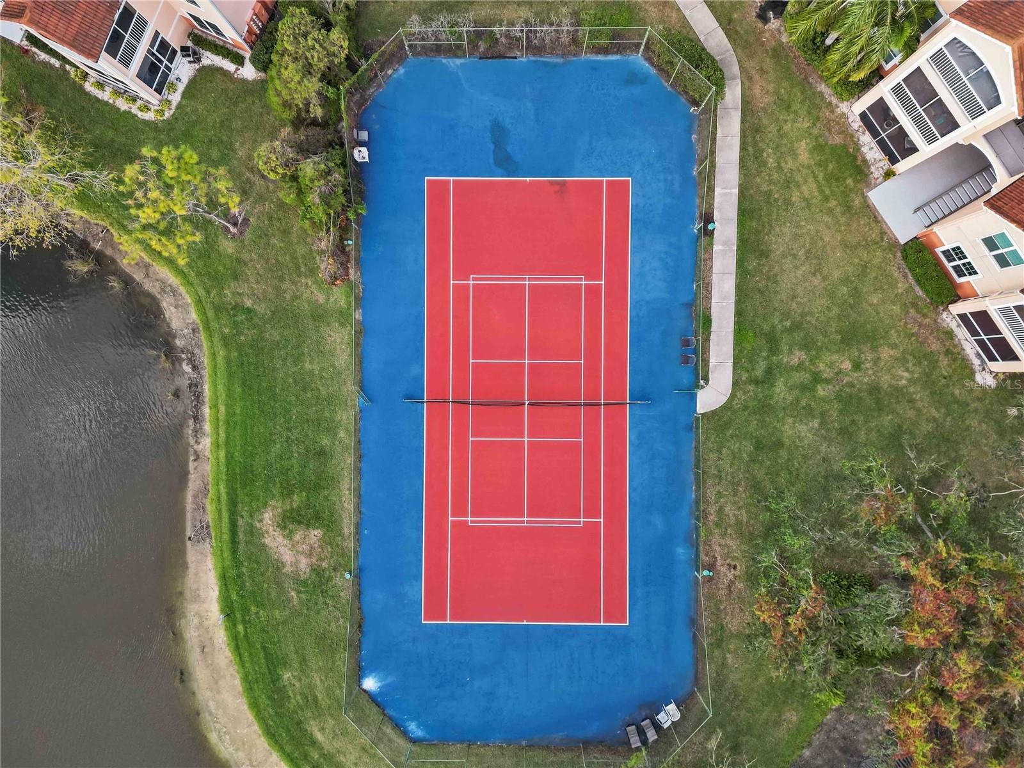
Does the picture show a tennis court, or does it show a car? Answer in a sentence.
Of the two, only a tennis court appears.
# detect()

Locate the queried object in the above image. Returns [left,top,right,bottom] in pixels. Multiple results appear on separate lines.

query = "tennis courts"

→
[360,56,697,745]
